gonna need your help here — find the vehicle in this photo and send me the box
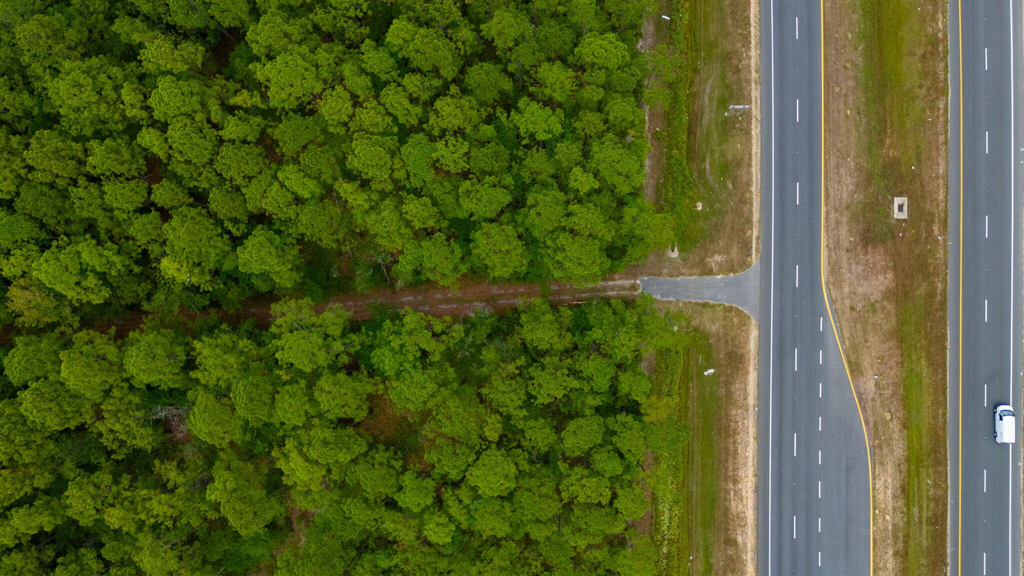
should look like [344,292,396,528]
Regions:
[993,403,1014,445]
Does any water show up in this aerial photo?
No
